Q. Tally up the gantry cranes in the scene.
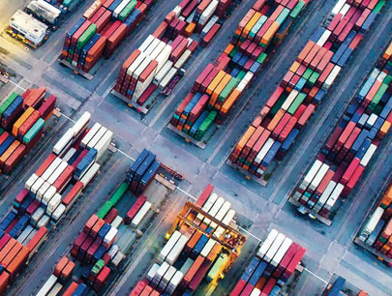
1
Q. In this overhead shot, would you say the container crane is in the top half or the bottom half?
bottom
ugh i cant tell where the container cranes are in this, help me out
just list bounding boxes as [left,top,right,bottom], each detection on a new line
[163,201,251,282]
